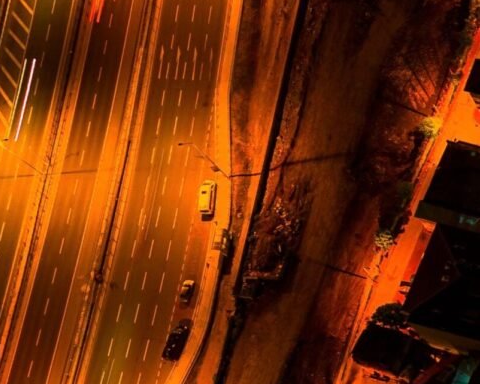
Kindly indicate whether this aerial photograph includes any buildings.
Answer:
Yes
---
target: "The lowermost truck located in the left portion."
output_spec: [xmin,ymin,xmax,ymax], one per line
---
[164,321,187,360]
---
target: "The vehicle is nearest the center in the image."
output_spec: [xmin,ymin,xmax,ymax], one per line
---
[199,181,215,217]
